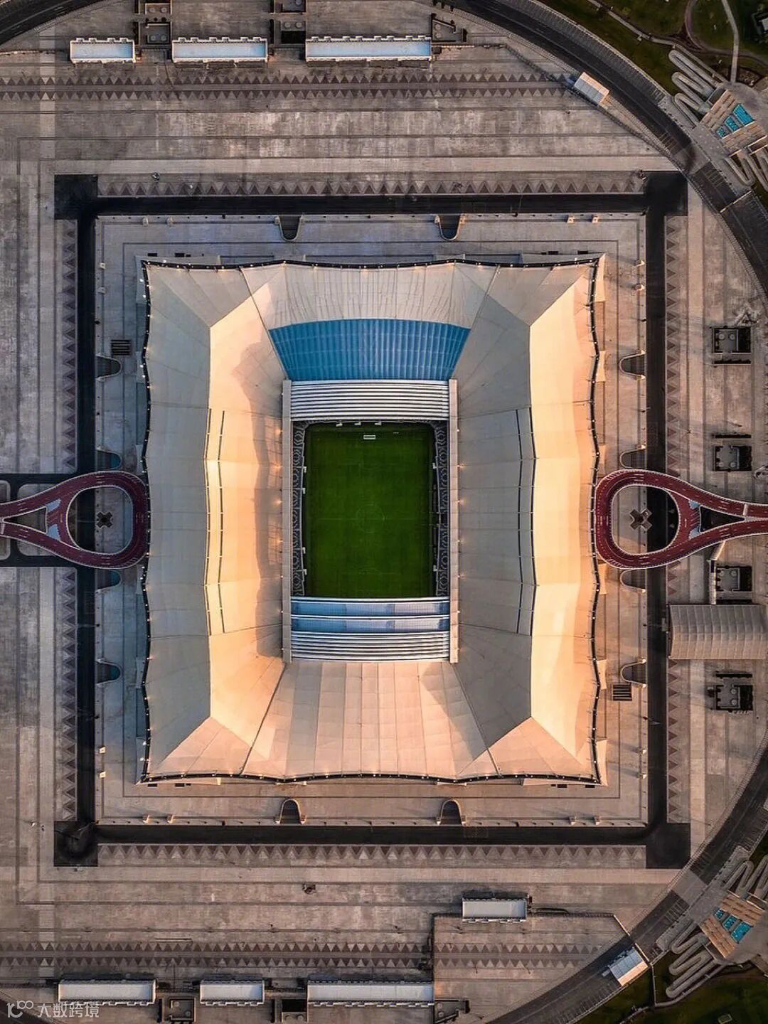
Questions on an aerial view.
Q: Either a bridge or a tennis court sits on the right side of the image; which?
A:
bridge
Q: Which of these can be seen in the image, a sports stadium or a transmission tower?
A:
sports stadium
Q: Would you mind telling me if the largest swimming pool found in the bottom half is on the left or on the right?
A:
right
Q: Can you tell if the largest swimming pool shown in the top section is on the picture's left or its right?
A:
right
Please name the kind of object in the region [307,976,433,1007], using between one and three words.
building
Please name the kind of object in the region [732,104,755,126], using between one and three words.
swimming pool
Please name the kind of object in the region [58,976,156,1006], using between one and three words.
building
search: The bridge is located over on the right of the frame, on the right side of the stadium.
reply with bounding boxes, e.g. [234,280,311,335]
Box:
[595,469,768,570]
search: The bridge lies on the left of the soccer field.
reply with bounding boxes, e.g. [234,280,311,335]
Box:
[0,470,147,569]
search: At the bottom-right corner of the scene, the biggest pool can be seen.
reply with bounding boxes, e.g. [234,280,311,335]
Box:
[729,920,754,944]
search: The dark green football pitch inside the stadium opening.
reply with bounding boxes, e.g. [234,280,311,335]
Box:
[301,423,440,598]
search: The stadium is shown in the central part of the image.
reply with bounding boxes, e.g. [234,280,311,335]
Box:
[137,255,607,785]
